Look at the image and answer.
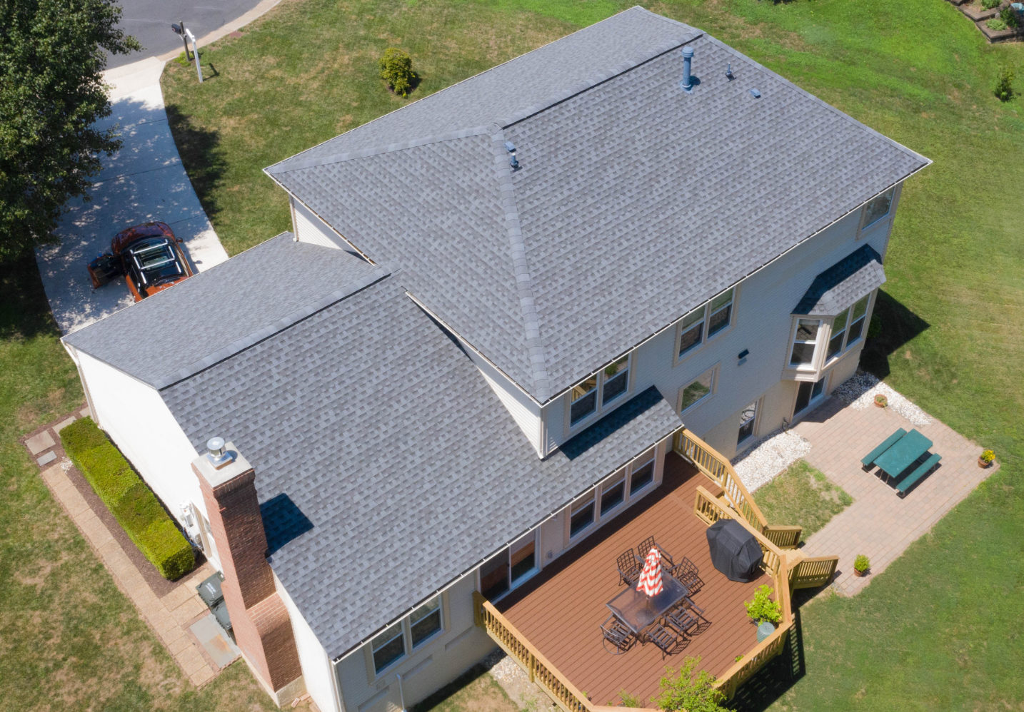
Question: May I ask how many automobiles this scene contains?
1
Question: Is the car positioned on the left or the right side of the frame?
left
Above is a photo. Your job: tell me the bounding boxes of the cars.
[81,224,195,304]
